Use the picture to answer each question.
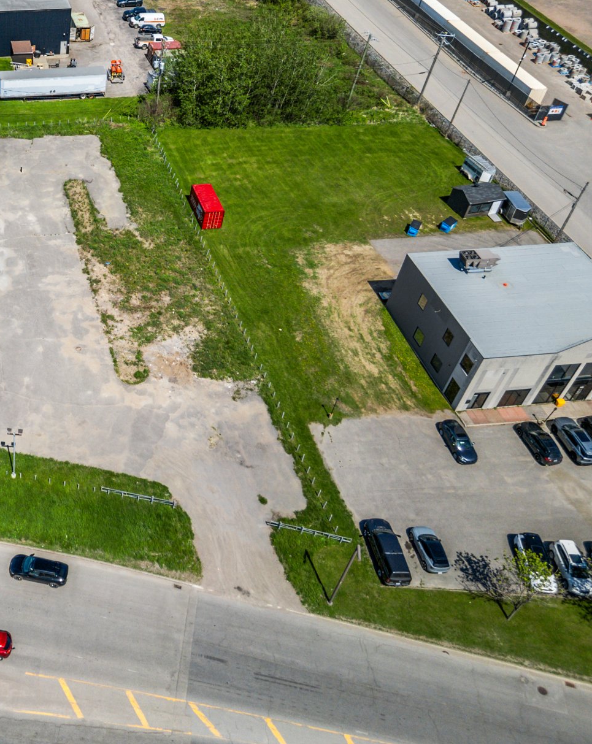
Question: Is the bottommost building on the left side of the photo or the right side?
right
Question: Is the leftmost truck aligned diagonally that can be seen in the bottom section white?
No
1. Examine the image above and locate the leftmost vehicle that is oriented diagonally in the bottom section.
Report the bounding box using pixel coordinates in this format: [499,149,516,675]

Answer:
[359,519,417,590]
